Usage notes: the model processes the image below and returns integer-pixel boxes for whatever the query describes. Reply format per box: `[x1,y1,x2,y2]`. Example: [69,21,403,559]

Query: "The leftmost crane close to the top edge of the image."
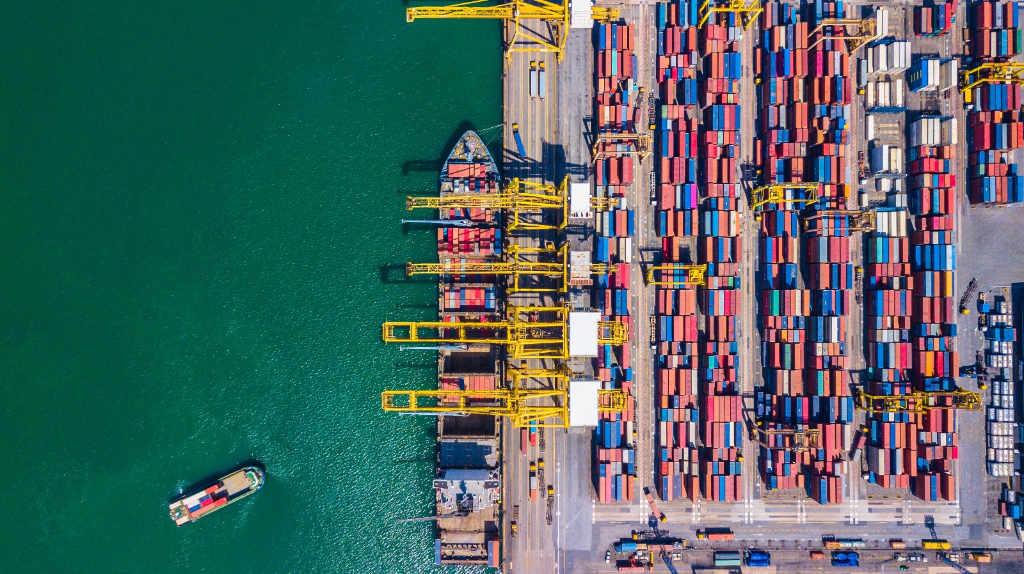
[404,0,619,71]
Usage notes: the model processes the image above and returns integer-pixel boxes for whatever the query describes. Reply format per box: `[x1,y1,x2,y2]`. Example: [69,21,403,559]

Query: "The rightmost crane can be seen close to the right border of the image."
[964,53,1024,90]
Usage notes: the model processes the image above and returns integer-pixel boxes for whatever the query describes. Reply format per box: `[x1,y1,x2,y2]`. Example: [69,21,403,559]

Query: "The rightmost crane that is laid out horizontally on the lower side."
[911,386,983,415]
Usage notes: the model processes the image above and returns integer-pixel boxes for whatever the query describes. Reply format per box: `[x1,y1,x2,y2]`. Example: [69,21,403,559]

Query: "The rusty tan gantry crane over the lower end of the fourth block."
[751,417,822,448]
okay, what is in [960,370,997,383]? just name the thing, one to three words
vehicle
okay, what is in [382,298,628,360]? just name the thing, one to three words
container crane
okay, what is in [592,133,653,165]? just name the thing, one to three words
container crane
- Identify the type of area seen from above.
port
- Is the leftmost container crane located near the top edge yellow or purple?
yellow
